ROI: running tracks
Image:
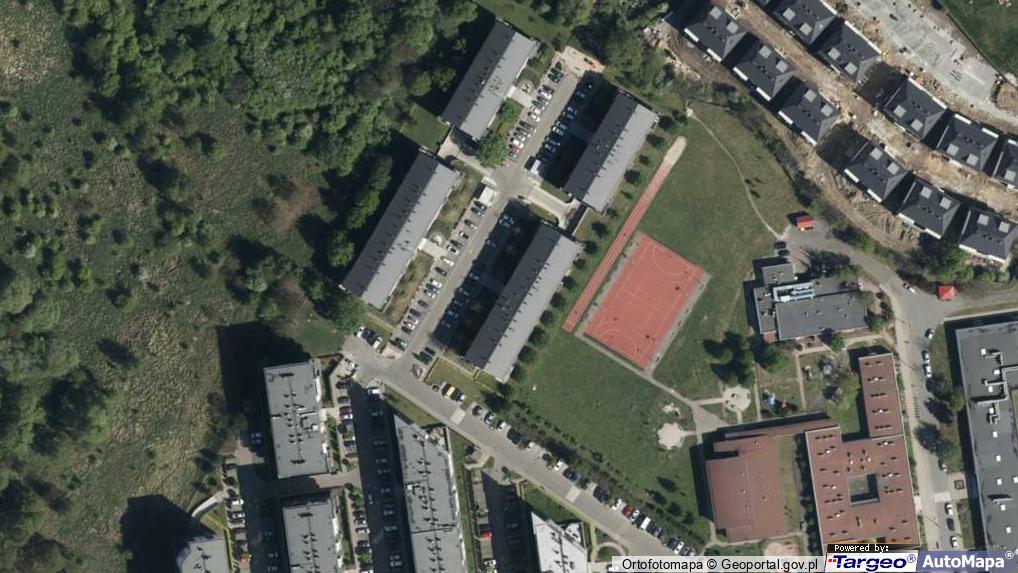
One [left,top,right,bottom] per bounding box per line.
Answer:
[563,135,686,332]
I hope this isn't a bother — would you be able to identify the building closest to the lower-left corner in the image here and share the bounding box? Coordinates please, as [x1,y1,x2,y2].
[178,531,238,573]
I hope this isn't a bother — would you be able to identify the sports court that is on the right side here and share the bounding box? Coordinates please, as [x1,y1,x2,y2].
[576,231,709,377]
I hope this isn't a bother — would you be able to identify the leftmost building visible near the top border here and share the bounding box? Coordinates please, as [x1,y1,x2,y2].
[441,18,536,142]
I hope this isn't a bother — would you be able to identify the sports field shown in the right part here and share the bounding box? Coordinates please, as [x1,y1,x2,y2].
[502,104,784,535]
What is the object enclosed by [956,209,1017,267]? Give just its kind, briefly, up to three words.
house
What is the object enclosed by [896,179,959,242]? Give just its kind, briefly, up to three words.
house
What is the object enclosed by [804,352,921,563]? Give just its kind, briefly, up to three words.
building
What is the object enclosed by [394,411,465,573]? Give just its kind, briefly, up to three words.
building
